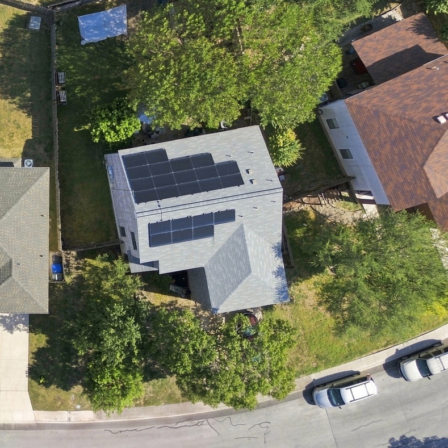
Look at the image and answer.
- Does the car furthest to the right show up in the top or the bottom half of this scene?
bottom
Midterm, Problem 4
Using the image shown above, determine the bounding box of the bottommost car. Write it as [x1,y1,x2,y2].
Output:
[314,374,376,409]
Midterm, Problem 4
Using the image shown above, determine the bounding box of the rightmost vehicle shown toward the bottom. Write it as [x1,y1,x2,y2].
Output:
[396,338,448,377]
